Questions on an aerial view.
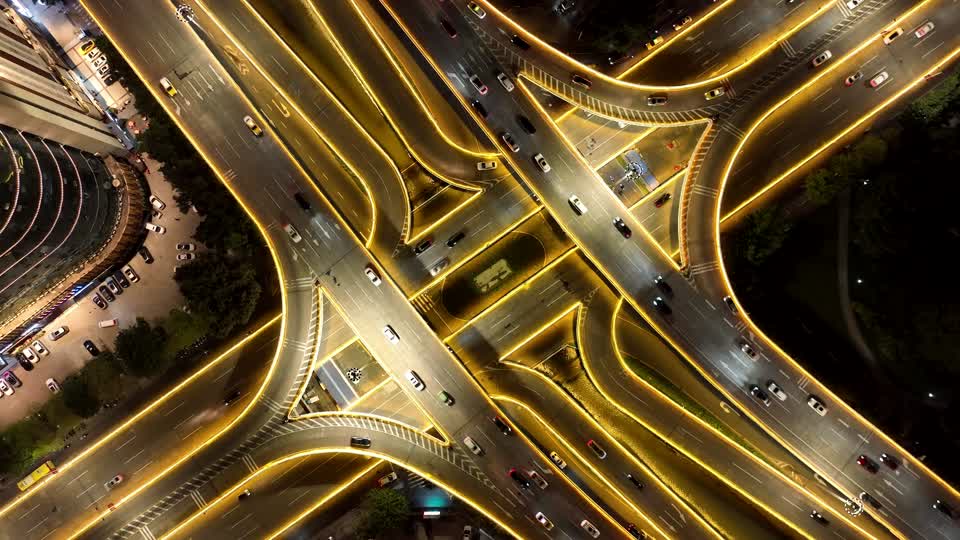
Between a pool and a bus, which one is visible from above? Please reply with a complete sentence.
There is a bus in the scene.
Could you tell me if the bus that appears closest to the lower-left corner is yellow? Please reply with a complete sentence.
Yes, the bus that appears closest to the lower-left corner appears yellow.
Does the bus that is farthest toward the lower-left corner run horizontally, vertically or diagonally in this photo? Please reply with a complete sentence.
In this picture, the bus that is farthest toward the lower-left corner lies diagonally.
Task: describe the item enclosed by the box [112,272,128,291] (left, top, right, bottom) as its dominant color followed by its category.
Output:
black car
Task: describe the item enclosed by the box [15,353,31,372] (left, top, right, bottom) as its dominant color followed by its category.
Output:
black car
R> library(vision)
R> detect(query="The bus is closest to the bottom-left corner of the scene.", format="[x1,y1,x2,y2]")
[7,458,54,495]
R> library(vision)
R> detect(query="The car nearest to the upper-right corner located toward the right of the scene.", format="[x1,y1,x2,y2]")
[918,21,938,36]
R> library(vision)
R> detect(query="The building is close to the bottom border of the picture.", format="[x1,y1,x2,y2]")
[396,506,477,540]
